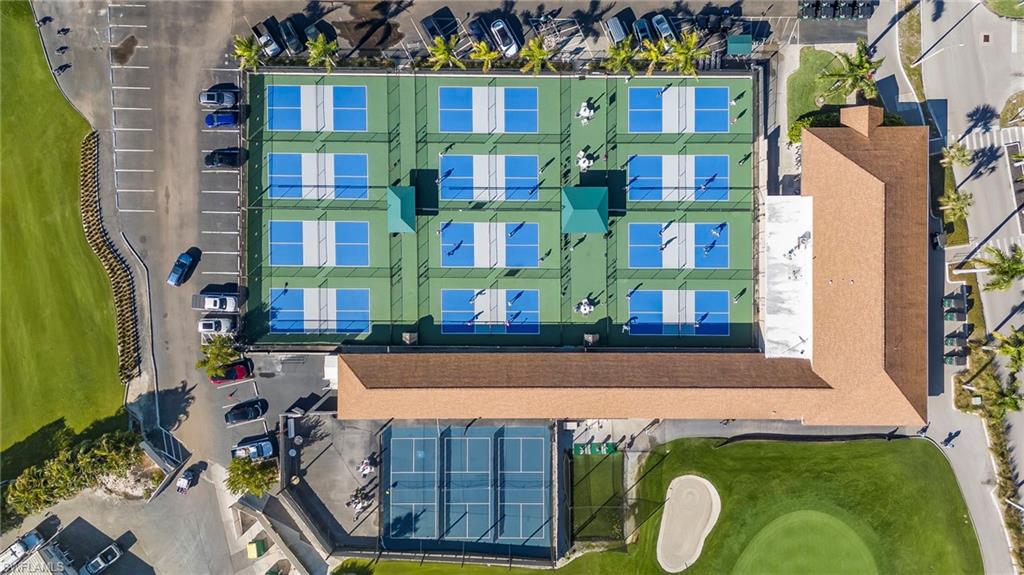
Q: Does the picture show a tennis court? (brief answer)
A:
Yes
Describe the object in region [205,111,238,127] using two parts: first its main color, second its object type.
blue car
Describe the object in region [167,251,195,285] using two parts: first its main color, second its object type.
blue car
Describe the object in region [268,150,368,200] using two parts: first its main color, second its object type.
blue sports court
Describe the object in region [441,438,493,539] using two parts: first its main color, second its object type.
blue tennis court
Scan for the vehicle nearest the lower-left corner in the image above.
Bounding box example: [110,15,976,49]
[0,531,45,574]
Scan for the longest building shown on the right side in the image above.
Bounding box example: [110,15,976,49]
[337,103,929,426]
